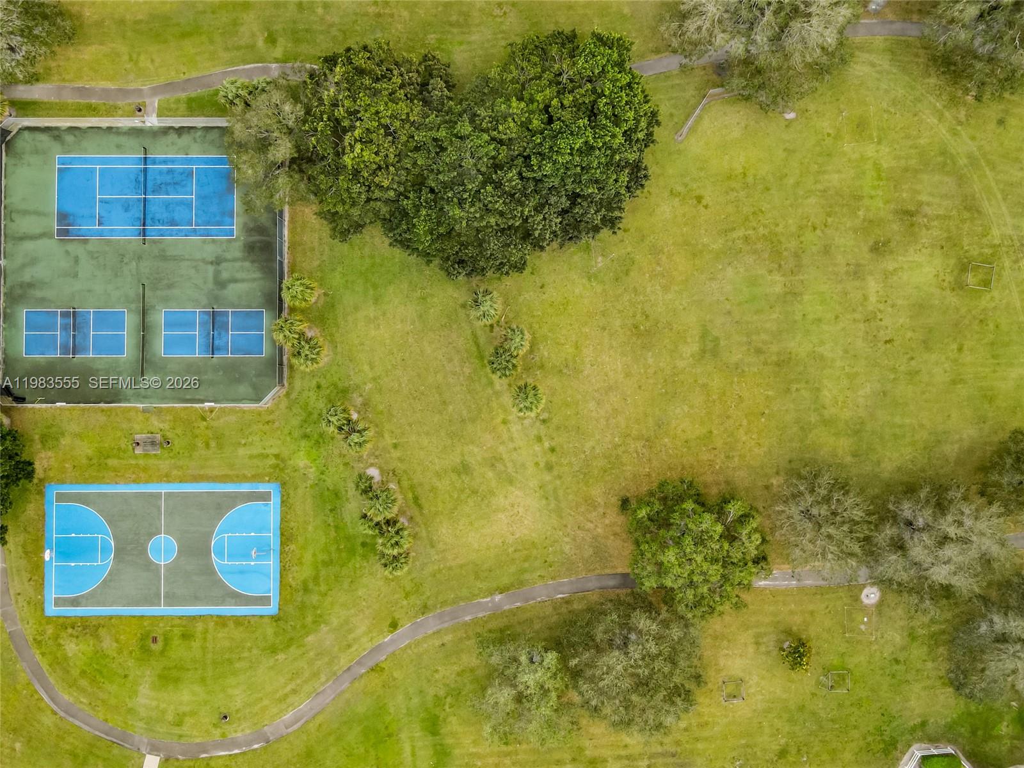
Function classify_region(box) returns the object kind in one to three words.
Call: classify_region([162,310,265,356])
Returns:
sports court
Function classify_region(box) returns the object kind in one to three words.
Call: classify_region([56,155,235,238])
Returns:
tennis court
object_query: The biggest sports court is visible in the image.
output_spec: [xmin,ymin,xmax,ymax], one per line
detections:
[1,123,288,408]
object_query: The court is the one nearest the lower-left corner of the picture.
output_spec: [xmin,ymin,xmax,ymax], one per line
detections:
[45,484,279,615]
